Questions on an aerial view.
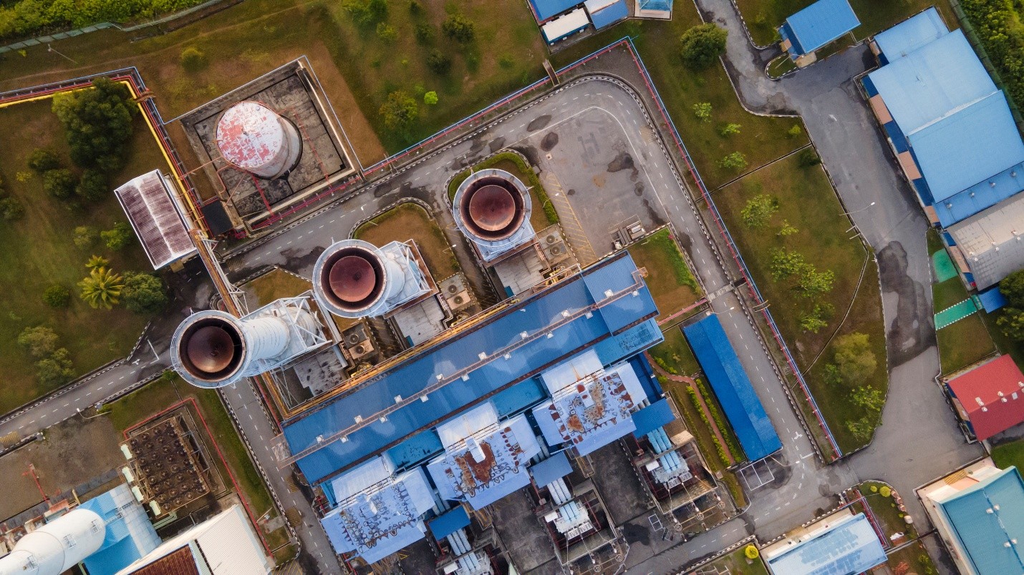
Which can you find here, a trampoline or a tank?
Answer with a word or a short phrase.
tank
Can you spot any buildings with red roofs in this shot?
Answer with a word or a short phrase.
Yes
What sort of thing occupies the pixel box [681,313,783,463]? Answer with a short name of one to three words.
shed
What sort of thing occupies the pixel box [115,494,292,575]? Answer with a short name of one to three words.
building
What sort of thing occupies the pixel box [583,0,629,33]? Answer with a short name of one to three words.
shed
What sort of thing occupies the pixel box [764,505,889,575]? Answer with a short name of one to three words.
building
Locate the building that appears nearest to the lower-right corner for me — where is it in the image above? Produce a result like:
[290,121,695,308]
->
[927,462,1024,575]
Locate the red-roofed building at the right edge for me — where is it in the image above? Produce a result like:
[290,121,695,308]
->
[940,354,1024,441]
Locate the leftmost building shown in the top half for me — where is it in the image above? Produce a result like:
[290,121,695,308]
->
[114,169,198,271]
